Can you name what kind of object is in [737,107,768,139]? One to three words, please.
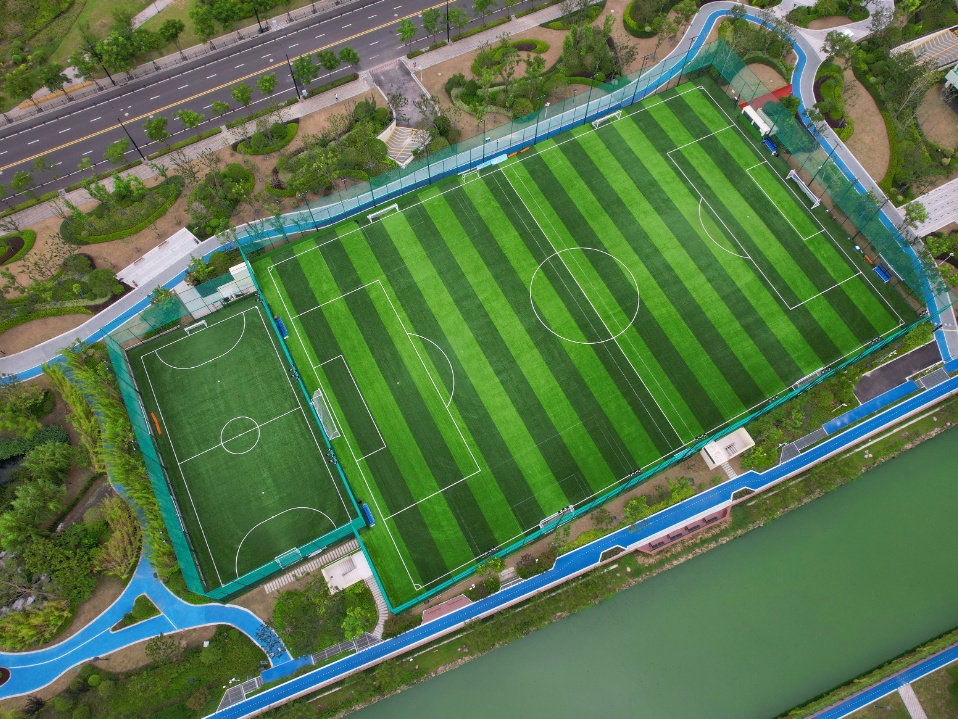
building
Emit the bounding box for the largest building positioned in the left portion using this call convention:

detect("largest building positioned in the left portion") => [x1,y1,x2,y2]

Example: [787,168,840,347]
[321,547,370,592]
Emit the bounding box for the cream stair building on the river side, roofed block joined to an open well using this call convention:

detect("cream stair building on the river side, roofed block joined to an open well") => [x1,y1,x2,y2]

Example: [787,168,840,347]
[700,430,756,469]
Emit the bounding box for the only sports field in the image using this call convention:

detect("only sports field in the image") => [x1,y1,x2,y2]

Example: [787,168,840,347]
[248,73,922,606]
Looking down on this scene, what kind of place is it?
sports ground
